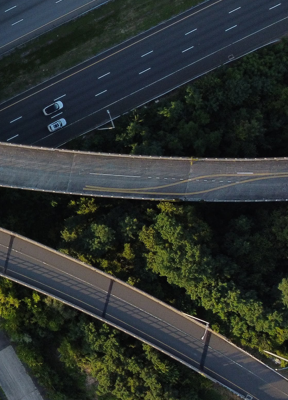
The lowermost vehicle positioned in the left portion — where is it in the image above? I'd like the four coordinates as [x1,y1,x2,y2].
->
[46,118,67,132]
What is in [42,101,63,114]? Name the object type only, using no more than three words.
vehicle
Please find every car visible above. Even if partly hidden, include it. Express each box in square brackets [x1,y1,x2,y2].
[46,118,67,132]
[42,101,63,114]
